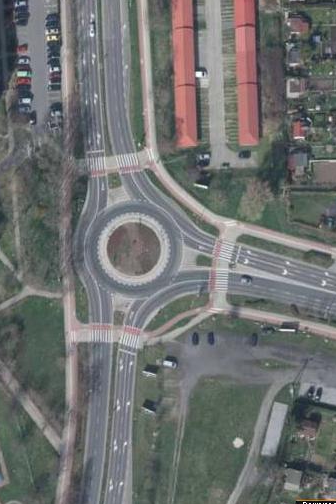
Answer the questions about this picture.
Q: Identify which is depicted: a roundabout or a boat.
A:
roundabout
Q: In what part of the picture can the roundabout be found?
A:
center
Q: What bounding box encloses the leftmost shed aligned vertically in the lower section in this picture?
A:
[260,402,288,457]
